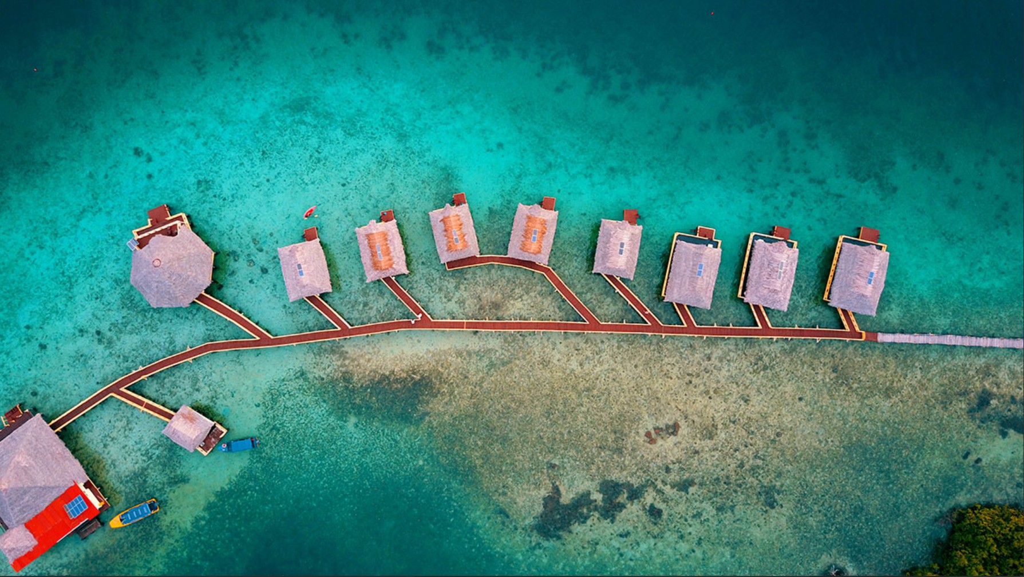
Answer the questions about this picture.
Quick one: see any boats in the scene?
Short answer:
Yes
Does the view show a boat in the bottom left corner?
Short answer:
Yes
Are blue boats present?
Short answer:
Yes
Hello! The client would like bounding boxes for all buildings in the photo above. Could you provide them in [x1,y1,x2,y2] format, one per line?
[734,225,799,312]
[660,226,723,311]
[161,403,235,456]
[592,209,643,280]
[355,209,410,283]
[817,226,890,317]
[506,196,559,265]
[428,192,481,263]
[276,226,334,302]
[0,403,114,571]
[128,203,223,310]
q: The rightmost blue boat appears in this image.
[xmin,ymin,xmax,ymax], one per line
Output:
[216,436,259,454]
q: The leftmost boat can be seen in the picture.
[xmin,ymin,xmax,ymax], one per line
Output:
[106,499,160,530]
